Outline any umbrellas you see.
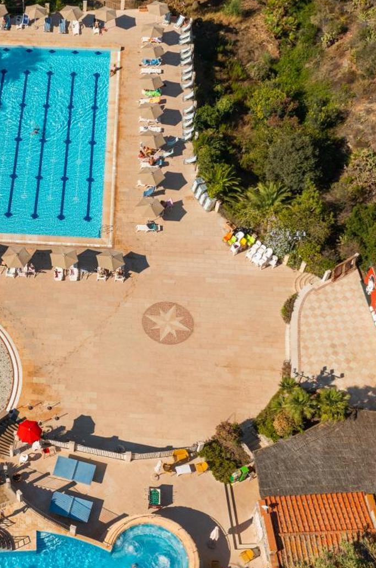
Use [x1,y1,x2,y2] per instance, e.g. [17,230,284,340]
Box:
[14,419,45,448]
[94,6,121,23]
[136,165,167,191]
[145,0,172,26]
[152,459,163,477]
[97,247,131,276]
[206,529,218,546]
[2,244,34,273]
[139,129,169,156]
[139,23,166,43]
[138,42,168,68]
[0,3,13,19]
[60,4,87,30]
[135,196,167,224]
[23,4,51,20]
[137,72,166,98]
[136,100,163,128]
[47,245,82,275]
